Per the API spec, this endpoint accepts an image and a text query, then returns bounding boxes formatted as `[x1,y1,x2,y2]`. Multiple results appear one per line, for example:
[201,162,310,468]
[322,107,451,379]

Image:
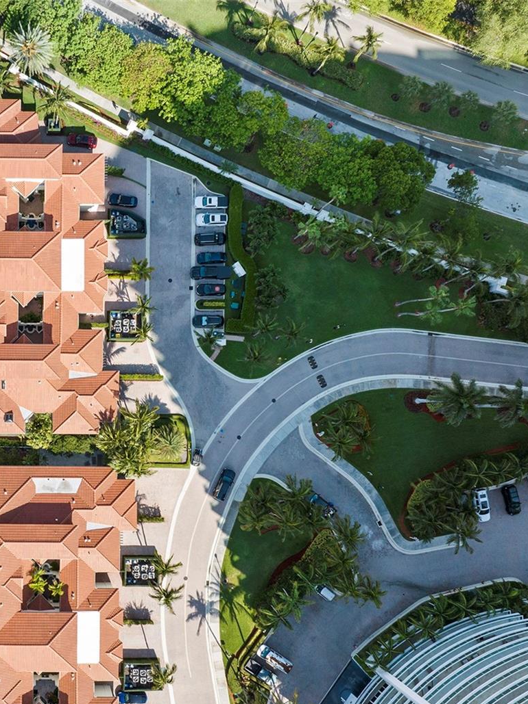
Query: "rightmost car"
[499,484,521,514]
